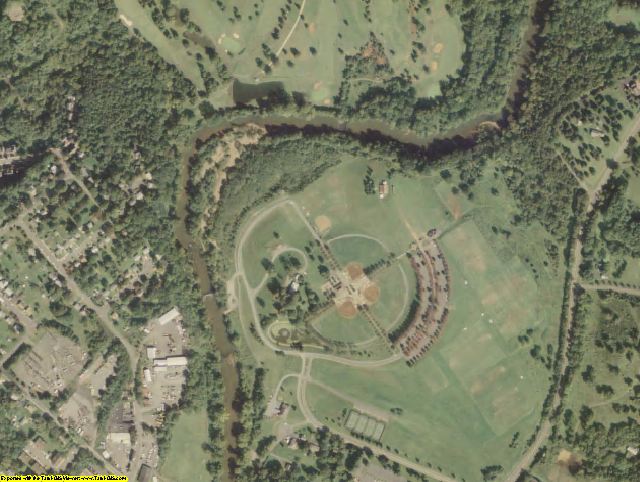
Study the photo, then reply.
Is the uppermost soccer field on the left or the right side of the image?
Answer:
right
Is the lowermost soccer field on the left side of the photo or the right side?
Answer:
right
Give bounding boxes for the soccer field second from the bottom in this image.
[446,330,503,382]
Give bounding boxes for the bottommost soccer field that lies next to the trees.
[471,358,538,432]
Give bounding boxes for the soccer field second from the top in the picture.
[478,270,536,338]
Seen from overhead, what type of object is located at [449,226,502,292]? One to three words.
soccer field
